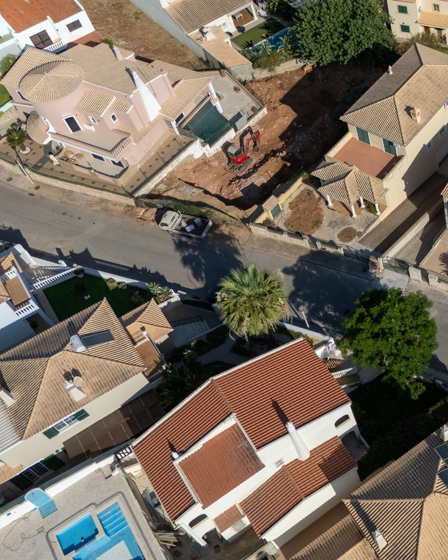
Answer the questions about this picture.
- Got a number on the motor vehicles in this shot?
3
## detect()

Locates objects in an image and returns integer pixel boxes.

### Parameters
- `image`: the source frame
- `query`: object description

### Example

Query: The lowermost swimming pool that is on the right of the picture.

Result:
[247,27,300,57]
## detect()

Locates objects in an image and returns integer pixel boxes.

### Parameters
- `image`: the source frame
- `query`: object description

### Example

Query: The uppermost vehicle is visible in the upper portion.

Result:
[226,141,261,179]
